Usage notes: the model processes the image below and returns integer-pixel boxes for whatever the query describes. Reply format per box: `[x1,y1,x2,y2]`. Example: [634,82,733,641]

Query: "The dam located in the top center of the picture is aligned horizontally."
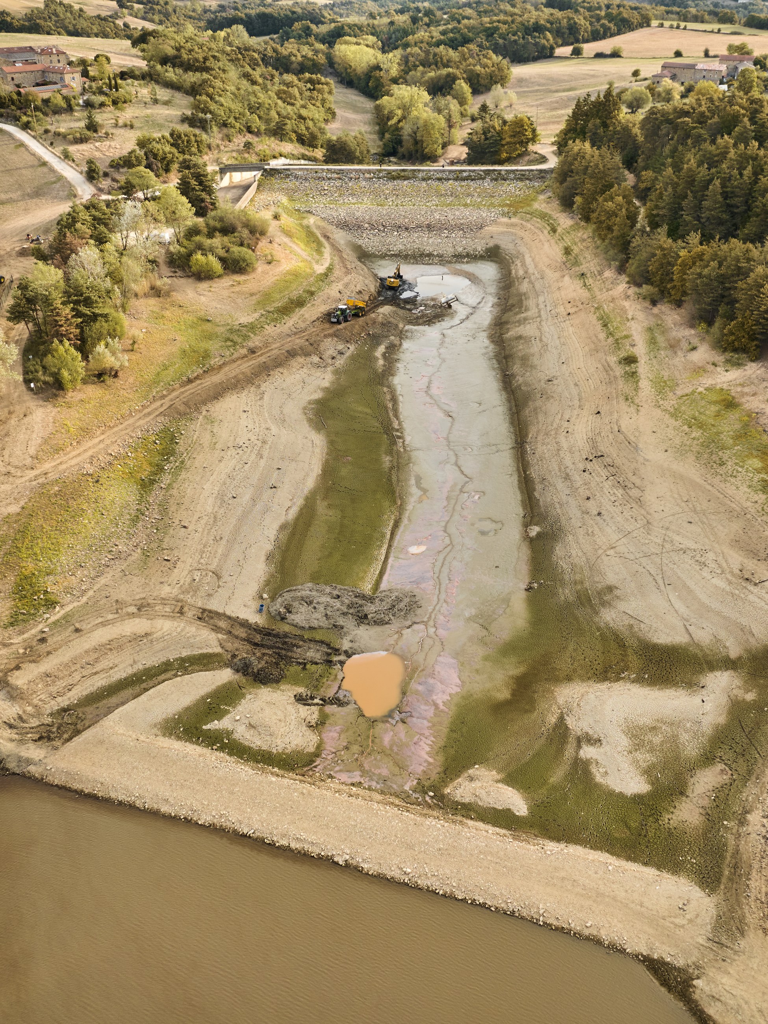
[240,165,563,263]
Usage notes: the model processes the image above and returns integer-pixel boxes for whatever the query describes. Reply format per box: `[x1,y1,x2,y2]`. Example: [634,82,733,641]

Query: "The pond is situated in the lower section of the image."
[343,653,404,718]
